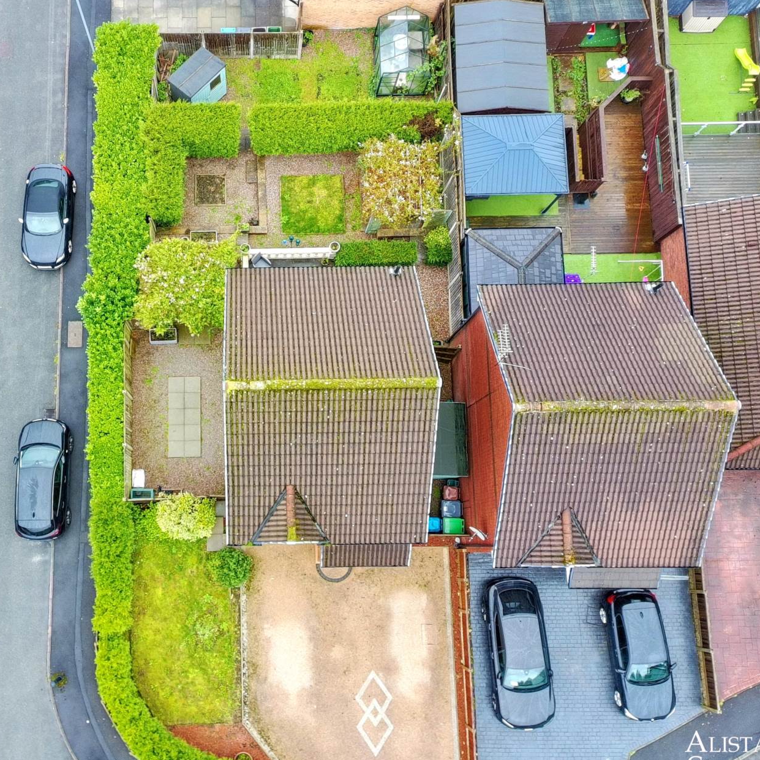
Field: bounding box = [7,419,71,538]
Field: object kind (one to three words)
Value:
car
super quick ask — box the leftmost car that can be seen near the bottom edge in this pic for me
[482,576,561,731]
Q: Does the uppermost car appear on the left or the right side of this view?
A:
left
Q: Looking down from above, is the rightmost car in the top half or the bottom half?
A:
bottom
